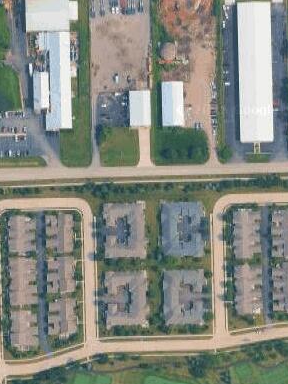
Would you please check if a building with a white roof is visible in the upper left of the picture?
Yes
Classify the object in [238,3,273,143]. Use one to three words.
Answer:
building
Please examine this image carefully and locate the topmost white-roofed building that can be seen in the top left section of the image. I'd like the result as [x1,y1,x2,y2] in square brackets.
[25,0,79,32]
